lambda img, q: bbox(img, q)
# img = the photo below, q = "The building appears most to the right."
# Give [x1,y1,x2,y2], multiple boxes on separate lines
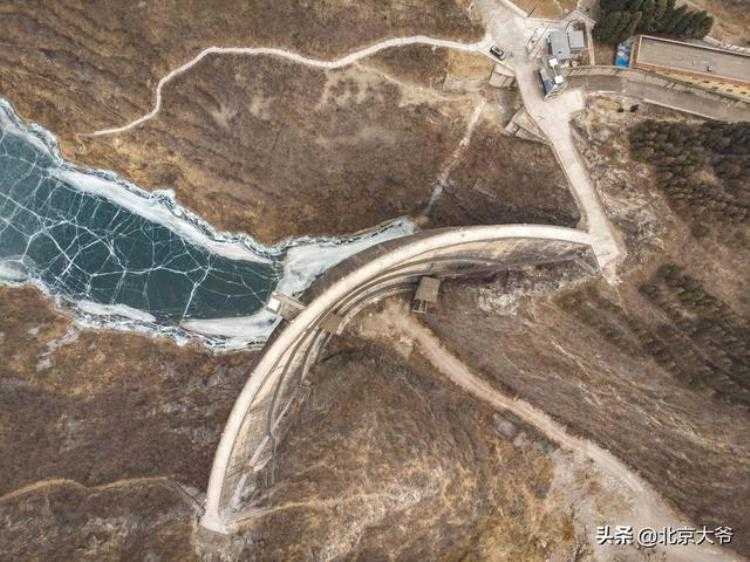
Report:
[630,34,750,100]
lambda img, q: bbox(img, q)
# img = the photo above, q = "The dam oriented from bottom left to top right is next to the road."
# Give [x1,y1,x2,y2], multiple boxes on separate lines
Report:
[201,223,590,533]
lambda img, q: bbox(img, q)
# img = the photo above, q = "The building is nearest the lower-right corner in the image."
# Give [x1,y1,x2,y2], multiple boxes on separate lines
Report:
[412,279,440,311]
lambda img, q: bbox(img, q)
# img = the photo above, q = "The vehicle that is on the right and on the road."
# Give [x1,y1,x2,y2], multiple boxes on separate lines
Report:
[489,44,506,59]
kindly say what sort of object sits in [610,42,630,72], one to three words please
shed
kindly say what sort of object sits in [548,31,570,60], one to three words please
house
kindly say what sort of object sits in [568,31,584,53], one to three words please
house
